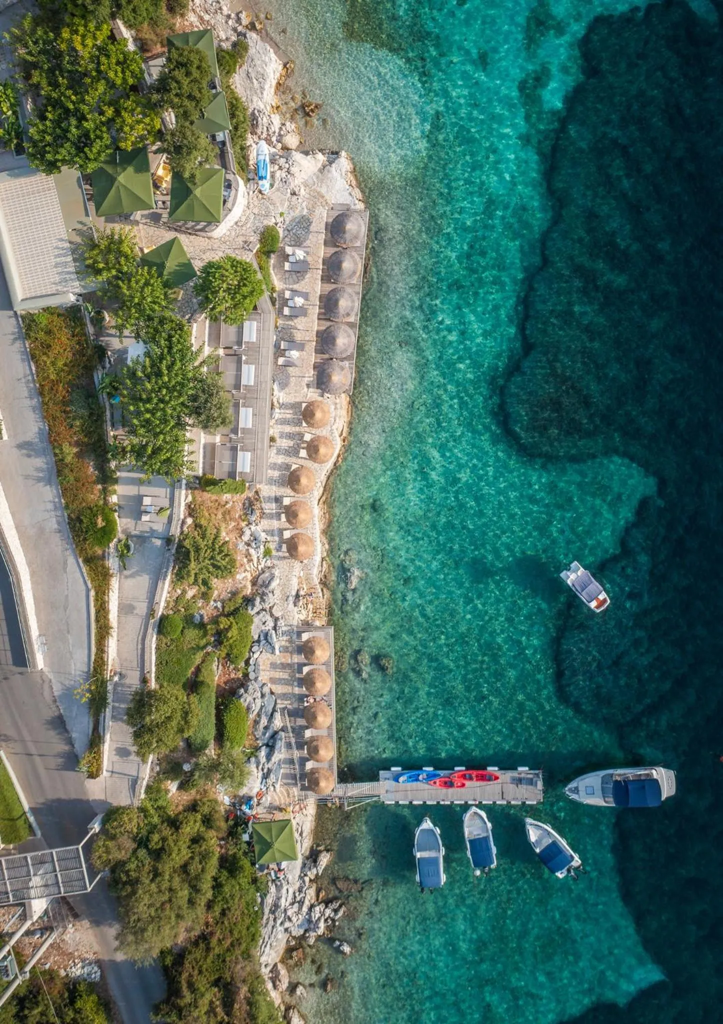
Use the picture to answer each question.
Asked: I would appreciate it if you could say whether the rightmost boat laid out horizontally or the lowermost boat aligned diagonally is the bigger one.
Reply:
the rightmost boat laid out horizontally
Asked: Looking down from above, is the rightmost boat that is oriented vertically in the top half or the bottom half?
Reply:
bottom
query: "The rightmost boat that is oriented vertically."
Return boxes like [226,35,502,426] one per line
[463,806,497,875]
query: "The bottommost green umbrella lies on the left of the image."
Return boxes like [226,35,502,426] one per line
[253,818,298,864]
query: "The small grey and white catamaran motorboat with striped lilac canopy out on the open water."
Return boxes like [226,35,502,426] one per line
[556,556,608,611]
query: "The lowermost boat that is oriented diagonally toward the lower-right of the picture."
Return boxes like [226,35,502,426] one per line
[523,804,584,880]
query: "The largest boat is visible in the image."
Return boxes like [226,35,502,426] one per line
[563,768,676,813]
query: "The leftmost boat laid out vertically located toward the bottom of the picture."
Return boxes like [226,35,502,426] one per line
[413,806,445,891]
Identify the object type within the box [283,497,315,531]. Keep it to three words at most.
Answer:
umbrella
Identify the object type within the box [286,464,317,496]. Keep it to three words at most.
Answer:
umbrella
